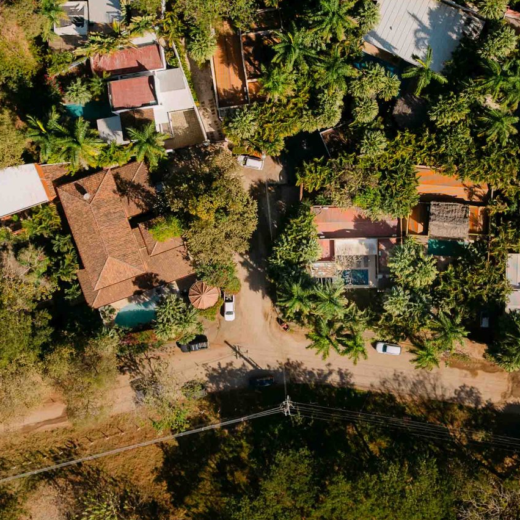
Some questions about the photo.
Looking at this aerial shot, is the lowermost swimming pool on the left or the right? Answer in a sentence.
The lowermost swimming pool is on the left side of the image.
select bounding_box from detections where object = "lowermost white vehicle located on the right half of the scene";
[377,342,401,355]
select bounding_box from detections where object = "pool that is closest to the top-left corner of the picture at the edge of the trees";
[64,102,115,119]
